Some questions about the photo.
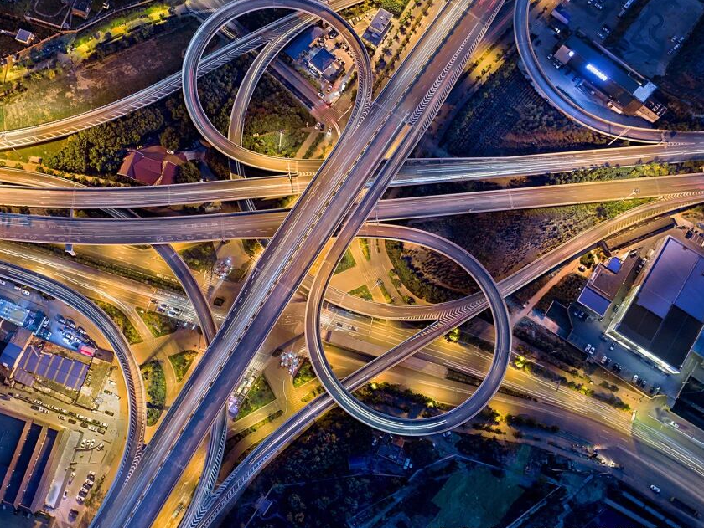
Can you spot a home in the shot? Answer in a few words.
Yes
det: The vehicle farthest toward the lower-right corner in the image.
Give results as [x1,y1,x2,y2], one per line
[670,497,704,520]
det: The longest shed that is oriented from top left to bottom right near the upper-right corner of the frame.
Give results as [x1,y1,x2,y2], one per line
[565,36,644,122]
